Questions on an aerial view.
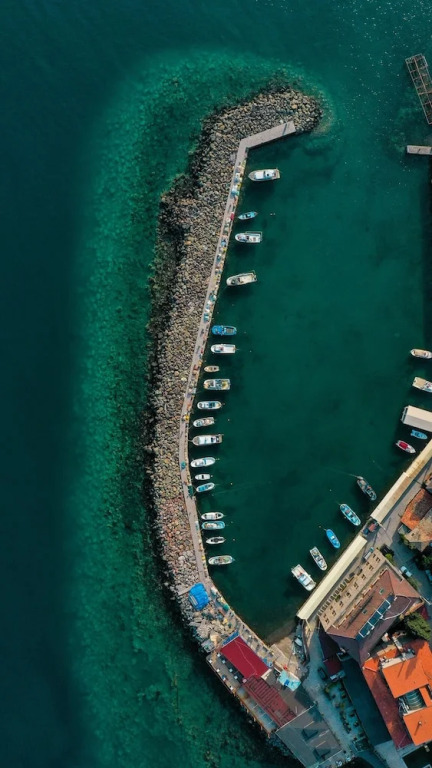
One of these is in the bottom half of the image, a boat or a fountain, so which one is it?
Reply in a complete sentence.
You can see a boat in the bottom half of the image.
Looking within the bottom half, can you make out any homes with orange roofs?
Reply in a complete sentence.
Yes, a home with an orange roof can be seen within the bottom half.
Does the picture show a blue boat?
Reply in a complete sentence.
Yes, a blue boat is visible in the scene.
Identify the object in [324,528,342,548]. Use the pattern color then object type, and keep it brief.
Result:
blue boat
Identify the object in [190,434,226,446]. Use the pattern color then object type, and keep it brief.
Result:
white boat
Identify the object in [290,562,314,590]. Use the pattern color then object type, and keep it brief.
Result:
white boat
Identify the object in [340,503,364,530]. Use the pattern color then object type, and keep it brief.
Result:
blue boat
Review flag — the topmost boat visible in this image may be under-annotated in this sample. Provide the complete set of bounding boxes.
[243,168,289,181]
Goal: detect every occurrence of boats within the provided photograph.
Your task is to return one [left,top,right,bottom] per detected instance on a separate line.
[197,400,224,410]
[210,326,238,334]
[189,457,216,467]
[211,344,237,353]
[290,562,314,590]
[410,379,432,392]
[340,503,364,530]
[410,349,432,359]
[195,482,216,493]
[196,511,224,520]
[190,434,226,446]
[308,546,328,572]
[204,366,220,372]
[223,270,259,285]
[394,440,416,453]
[195,473,212,480]
[243,168,289,181]
[201,520,225,530]
[190,416,216,428]
[207,555,234,566]
[236,231,264,242]
[204,537,228,544]
[201,379,230,390]
[324,528,342,548]
[238,211,257,220]
[410,429,428,440]
[357,478,377,501]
